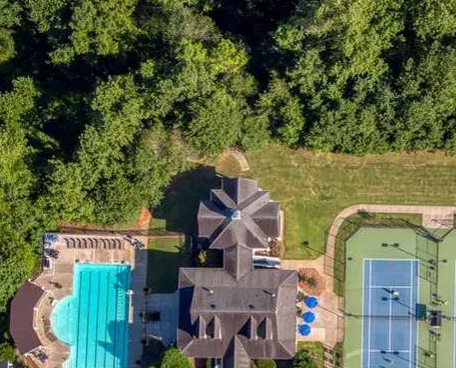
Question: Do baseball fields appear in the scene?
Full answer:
No, there isn't any baseball field down there.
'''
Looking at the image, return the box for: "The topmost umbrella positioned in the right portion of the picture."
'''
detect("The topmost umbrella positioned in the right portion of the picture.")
[304,296,317,309]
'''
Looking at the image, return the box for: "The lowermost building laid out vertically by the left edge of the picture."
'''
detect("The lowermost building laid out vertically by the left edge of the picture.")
[11,279,49,356]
